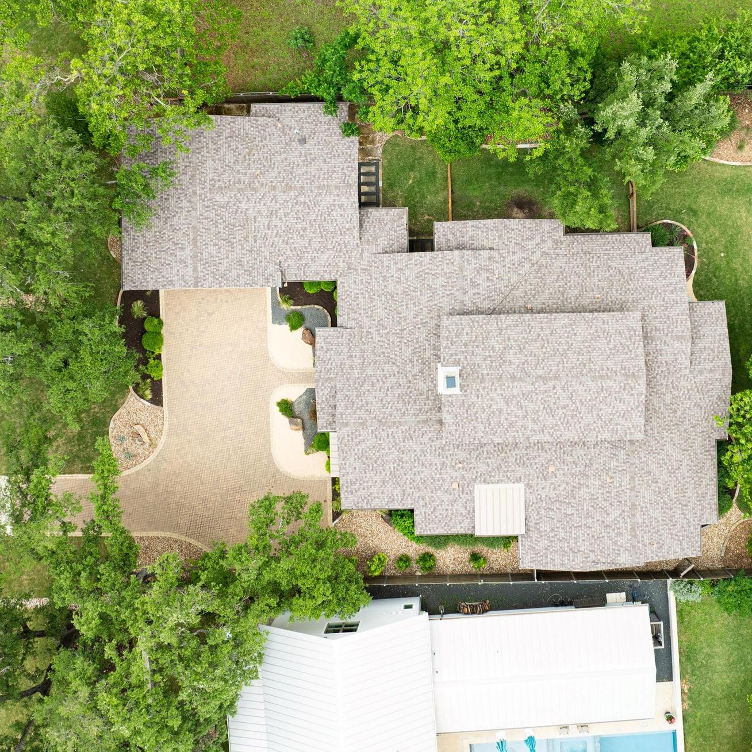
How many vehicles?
none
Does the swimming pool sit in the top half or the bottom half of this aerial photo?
bottom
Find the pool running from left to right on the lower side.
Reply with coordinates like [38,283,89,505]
[469,731,672,752]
